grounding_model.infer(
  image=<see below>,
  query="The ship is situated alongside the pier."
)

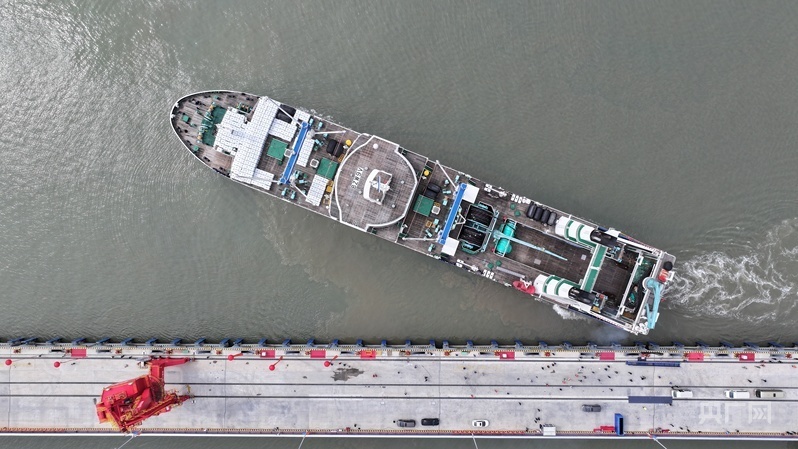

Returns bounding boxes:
[170,87,677,338]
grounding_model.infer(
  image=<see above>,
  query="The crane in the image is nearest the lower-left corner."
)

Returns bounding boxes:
[93,353,197,433]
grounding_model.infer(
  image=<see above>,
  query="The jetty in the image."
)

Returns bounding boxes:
[0,342,798,440]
